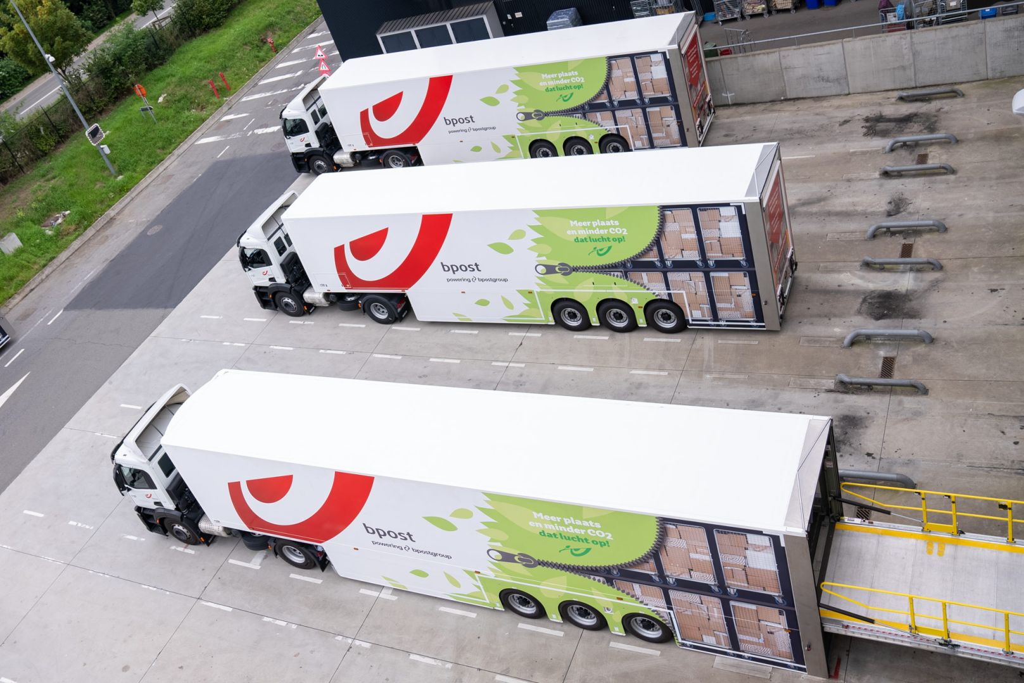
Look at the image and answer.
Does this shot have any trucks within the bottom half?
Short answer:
Yes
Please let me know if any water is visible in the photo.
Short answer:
No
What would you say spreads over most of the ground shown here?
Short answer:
paved ground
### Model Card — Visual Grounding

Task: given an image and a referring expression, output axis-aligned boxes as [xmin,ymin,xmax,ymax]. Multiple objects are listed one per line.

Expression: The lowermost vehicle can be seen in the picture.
[110,369,1024,683]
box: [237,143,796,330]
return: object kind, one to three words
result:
truck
